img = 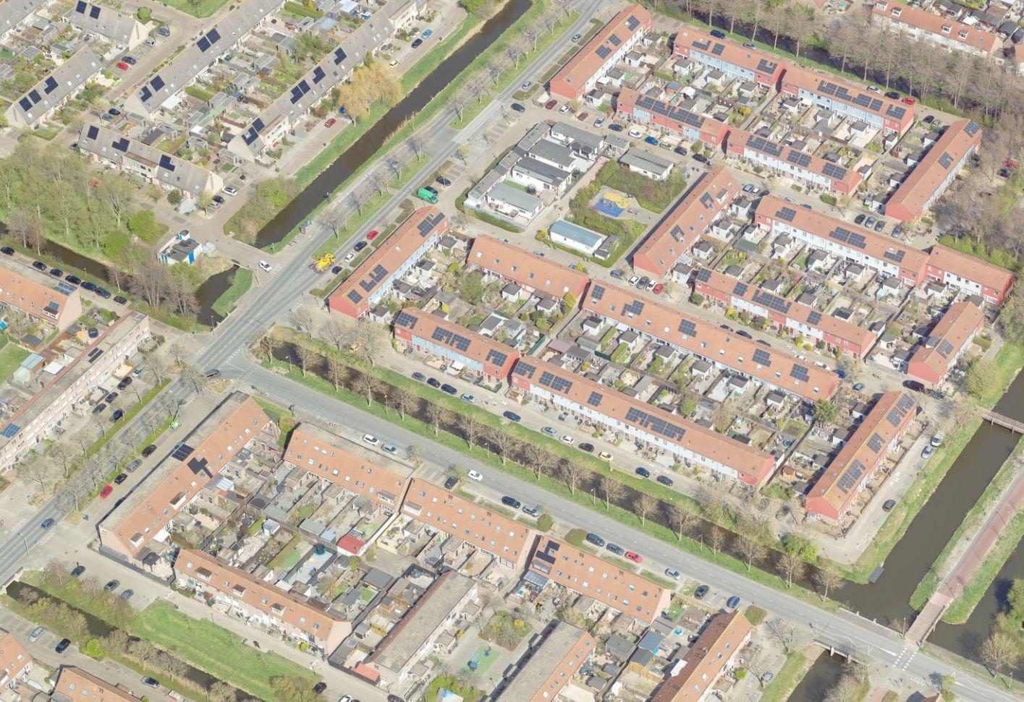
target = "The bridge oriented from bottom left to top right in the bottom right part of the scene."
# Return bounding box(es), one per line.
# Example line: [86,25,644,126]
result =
[906,597,952,645]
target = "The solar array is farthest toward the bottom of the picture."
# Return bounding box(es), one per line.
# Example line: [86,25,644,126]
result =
[540,543,562,567]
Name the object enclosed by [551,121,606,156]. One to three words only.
house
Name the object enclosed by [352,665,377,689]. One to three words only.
shed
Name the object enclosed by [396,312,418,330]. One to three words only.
solar array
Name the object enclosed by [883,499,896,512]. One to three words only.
vehicle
